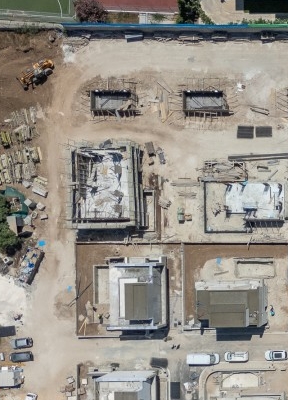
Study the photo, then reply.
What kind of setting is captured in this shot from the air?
residential area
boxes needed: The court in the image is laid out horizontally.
[101,0,179,12]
